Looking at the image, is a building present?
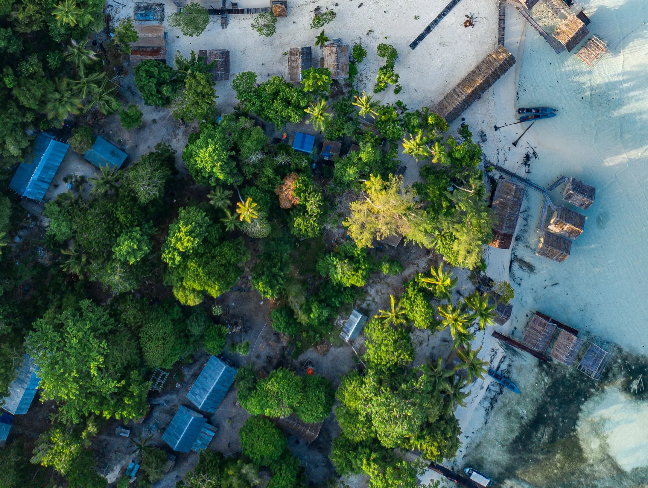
Yes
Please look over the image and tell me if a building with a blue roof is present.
Yes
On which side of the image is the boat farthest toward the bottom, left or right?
right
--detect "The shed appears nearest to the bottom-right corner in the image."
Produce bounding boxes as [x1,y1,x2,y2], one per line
[547,324,583,365]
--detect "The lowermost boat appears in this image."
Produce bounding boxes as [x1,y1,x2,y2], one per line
[464,467,493,488]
